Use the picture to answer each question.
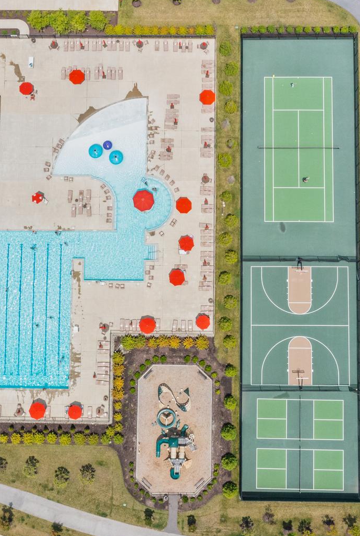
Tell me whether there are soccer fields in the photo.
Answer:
No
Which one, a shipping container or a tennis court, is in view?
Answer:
tennis court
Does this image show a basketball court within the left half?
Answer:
No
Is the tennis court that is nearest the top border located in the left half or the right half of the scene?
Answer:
right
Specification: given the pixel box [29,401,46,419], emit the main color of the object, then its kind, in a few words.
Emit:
red umbrella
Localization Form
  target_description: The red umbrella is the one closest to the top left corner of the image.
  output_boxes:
[20,82,34,96]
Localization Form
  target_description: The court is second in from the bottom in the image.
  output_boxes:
[241,391,359,445]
